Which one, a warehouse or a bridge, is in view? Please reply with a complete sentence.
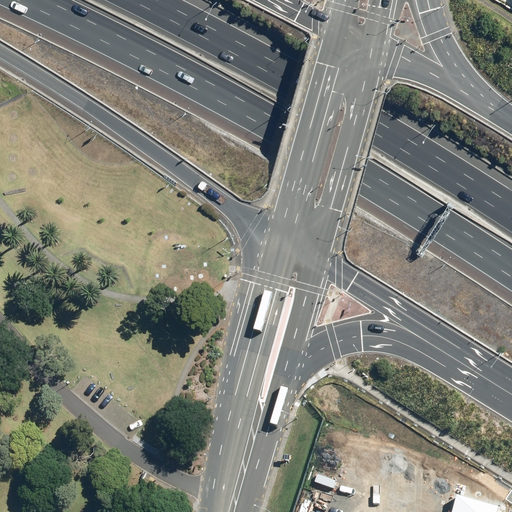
The one in the frame is a bridge.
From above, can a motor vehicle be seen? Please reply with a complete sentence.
Yes, a motor vehicle appears in the view.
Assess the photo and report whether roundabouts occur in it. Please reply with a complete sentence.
No, this view has no roundabout in it.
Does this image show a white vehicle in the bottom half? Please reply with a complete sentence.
Yes, I can see a white vehicle in the bottom half.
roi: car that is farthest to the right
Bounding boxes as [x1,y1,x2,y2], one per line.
[458,191,473,203]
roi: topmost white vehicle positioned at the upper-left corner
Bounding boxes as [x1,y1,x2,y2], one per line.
[10,2,28,14]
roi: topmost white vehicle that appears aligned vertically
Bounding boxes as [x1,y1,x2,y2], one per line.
[254,290,273,332]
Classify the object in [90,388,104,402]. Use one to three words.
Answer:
vehicle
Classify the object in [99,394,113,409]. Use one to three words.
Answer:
car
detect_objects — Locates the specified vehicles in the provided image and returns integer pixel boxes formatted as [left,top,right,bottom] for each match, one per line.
[99,394,113,409]
[83,382,96,396]
[339,485,355,495]
[191,23,206,34]
[458,191,473,203]
[139,66,152,76]
[128,420,143,430]
[178,72,194,84]
[10,2,28,14]
[72,5,88,16]
[200,184,222,202]
[372,484,380,505]
[368,324,384,332]
[218,52,234,62]
[328,507,344,512]
[90,388,104,402]
[254,290,273,332]
[310,10,326,20]
[269,386,288,428]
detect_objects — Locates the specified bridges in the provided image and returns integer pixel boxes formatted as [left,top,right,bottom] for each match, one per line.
[265,35,394,252]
